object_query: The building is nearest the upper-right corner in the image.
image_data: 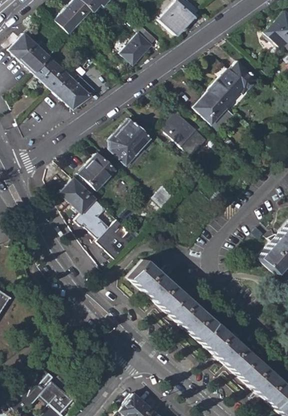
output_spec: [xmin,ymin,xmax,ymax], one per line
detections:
[258,9,288,52]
